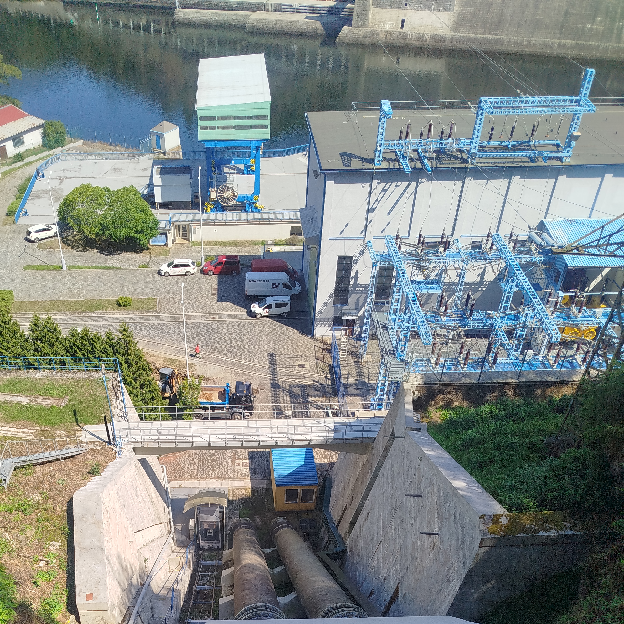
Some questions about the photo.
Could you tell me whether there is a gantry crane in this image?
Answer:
Yes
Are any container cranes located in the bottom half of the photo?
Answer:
No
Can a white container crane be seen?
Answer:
Yes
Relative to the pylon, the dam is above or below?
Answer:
above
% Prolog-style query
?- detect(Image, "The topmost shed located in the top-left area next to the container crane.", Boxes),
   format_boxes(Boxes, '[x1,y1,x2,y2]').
[151,119,183,156]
